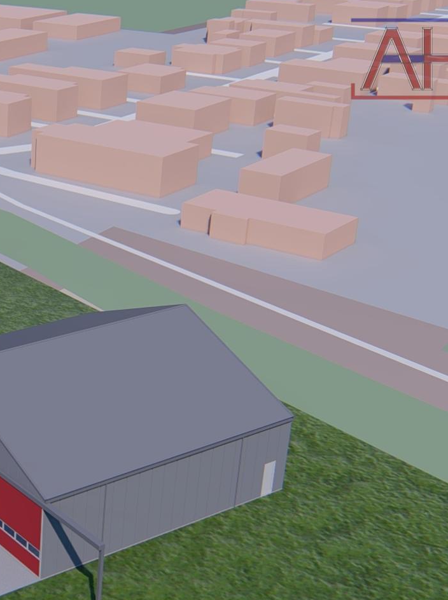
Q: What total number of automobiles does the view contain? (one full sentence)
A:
No automobiles are visible.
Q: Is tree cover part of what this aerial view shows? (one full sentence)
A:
No, there is no tree cover in the image.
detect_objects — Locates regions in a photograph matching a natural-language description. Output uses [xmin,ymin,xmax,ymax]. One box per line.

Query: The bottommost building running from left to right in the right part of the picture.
[180,190,358,260]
